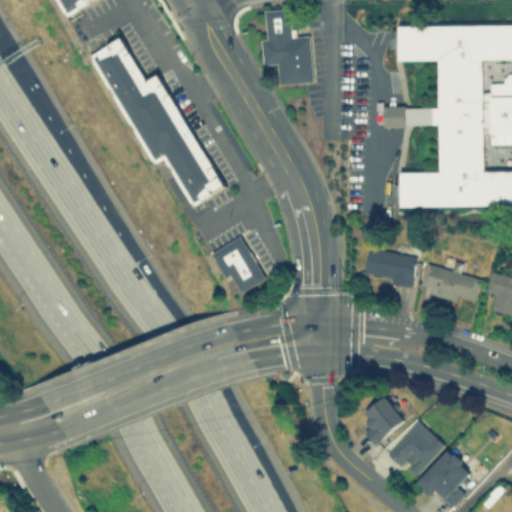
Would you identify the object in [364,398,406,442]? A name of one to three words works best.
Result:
house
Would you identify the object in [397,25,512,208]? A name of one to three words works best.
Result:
building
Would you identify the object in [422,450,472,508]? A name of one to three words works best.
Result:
house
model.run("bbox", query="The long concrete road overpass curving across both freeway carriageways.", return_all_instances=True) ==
[38,309,280,452]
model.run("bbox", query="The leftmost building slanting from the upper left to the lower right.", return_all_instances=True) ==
[92,38,223,208]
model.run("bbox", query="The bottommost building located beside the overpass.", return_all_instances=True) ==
[214,236,266,292]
